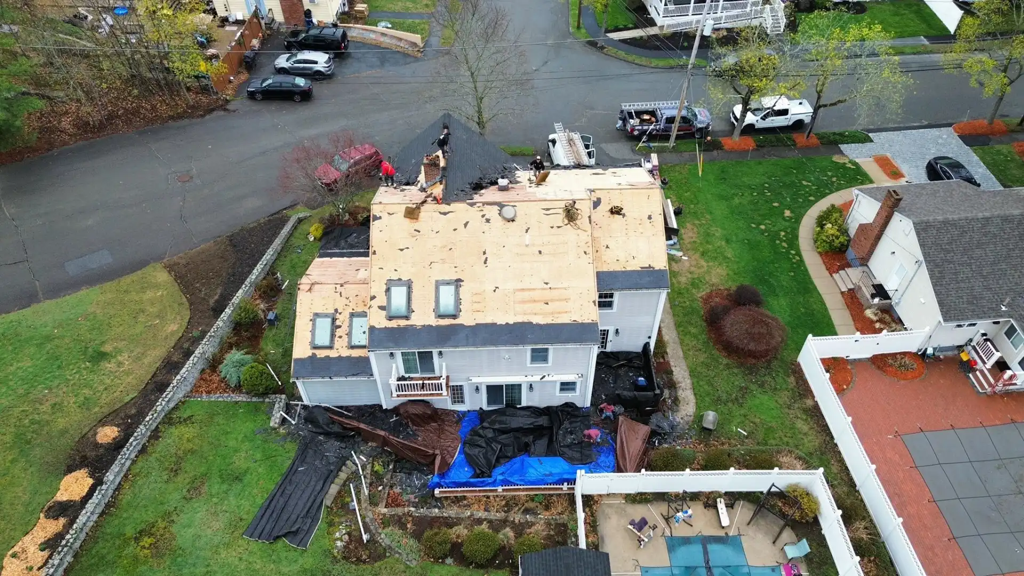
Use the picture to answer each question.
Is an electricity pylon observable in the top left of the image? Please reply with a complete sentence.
No, in the top left of the image there is no electricity pylon.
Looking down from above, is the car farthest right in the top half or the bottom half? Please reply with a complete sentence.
It is in the top half that the car farthest right appears.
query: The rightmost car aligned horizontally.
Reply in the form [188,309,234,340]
[919,152,995,181]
